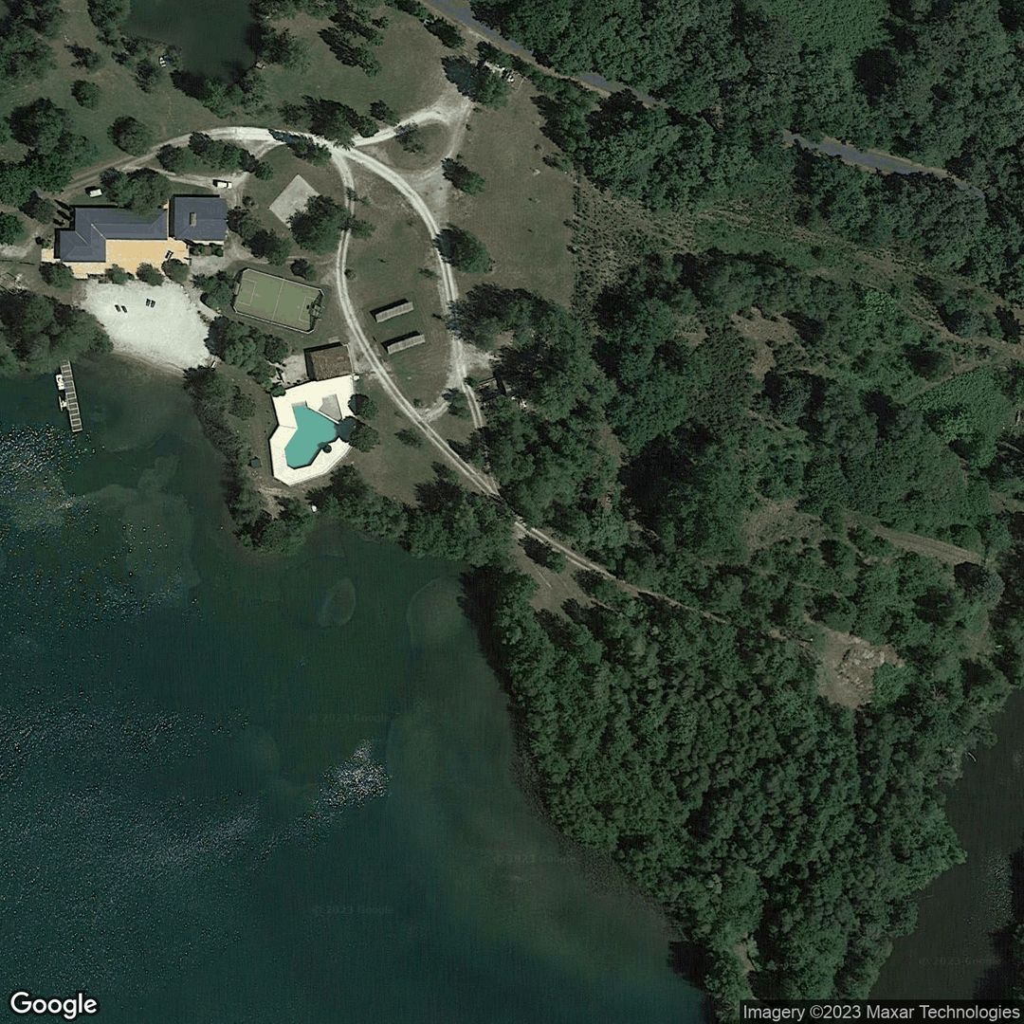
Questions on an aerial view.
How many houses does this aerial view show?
3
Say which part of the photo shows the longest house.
top left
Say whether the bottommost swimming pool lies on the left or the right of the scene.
left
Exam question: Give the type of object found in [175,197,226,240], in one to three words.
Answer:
house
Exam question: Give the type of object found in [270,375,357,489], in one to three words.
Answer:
swimming pool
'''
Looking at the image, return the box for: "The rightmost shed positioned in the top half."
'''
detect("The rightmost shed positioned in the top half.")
[476,374,501,396]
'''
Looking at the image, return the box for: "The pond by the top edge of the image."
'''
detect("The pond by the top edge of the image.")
[124,0,254,91]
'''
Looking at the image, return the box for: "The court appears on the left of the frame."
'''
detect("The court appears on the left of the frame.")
[233,268,324,333]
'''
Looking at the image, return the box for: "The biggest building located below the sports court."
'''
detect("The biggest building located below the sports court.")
[310,345,353,381]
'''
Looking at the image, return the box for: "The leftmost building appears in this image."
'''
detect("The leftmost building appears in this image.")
[60,208,167,262]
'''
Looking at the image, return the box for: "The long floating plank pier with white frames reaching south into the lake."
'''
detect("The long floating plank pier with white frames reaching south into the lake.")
[61,361,82,432]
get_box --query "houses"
[310,345,353,381]
[175,197,226,240]
[60,208,167,262]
